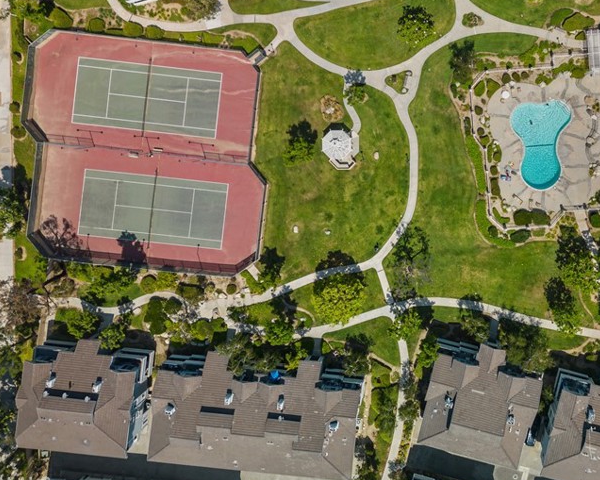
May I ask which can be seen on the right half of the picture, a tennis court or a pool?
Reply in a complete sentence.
The feature located on the right half of the picture is a pool.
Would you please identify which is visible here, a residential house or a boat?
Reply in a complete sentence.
Looking from above, you can make out a residential house.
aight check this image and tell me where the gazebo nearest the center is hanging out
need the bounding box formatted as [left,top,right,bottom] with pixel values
[322,129,359,170]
